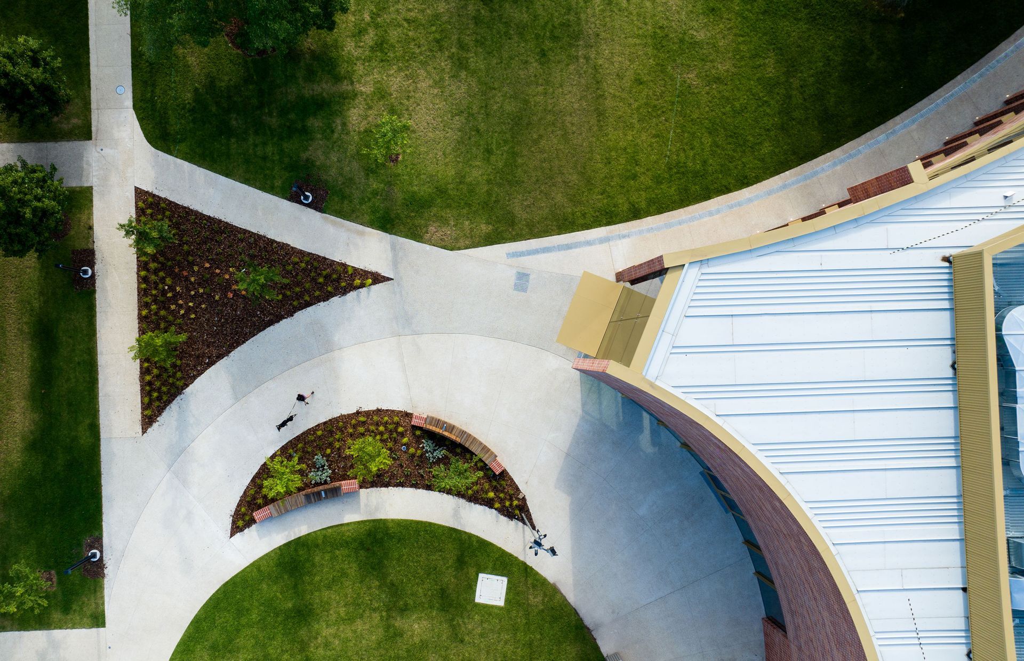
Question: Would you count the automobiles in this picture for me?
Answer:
0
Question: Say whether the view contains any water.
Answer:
No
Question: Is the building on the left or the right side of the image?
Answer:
right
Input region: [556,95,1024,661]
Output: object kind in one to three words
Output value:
building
